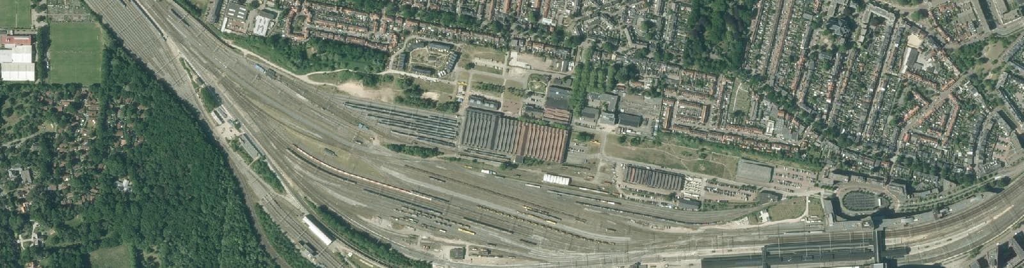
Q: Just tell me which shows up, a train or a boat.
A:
train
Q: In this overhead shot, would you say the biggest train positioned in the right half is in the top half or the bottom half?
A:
bottom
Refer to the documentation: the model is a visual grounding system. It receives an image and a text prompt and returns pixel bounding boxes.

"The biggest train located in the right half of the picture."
[576,201,730,225]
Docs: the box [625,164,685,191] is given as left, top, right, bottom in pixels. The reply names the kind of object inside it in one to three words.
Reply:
building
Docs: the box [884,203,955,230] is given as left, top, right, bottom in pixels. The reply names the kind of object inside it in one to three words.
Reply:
building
